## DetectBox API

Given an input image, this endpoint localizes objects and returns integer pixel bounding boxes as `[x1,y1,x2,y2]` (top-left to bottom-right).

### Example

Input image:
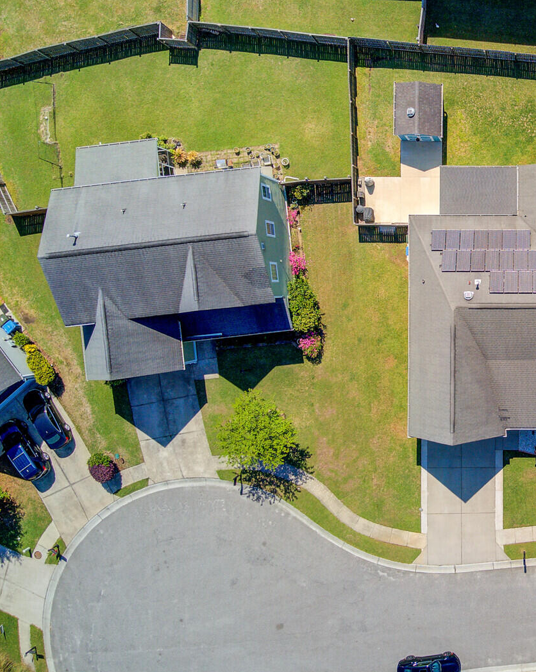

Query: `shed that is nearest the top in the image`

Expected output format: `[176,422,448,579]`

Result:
[393,79,443,142]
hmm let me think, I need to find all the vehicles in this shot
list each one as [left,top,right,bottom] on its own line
[397,651,461,672]
[20,386,71,450]
[0,418,49,483]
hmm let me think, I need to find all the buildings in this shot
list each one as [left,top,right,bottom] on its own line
[35,140,300,382]
[0,325,42,407]
[408,164,536,446]
[393,79,443,142]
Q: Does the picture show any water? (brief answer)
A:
No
